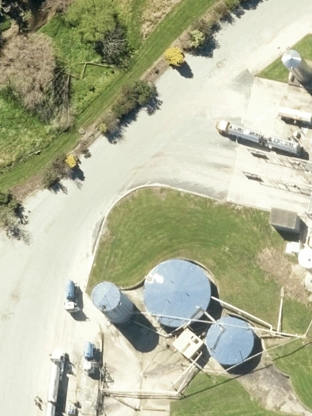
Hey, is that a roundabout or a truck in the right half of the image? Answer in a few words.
truck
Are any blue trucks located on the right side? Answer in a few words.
No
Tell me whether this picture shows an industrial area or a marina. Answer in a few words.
industrial area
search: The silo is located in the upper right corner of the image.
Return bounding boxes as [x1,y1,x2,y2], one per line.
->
[283,50,312,86]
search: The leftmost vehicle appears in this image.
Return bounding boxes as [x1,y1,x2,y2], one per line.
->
[46,349,65,416]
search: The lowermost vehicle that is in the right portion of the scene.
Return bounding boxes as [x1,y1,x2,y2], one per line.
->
[216,118,307,159]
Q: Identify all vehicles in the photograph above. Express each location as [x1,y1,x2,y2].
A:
[216,118,307,159]
[86,340,99,374]
[66,280,80,312]
[279,110,312,127]
[46,349,65,416]
[67,403,81,416]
